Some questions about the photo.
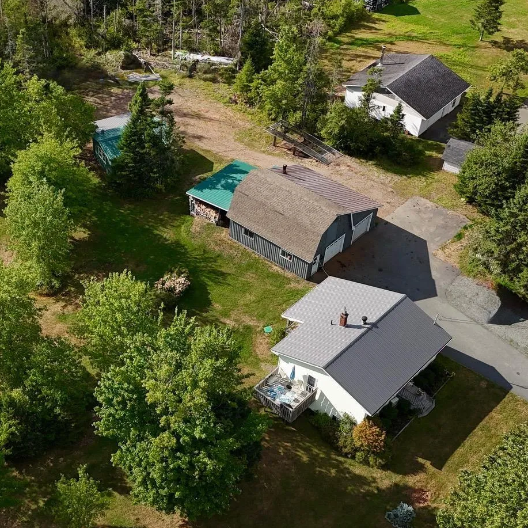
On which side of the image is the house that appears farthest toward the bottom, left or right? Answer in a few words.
right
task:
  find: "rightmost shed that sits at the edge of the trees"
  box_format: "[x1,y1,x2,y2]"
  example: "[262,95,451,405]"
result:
[442,138,486,177]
